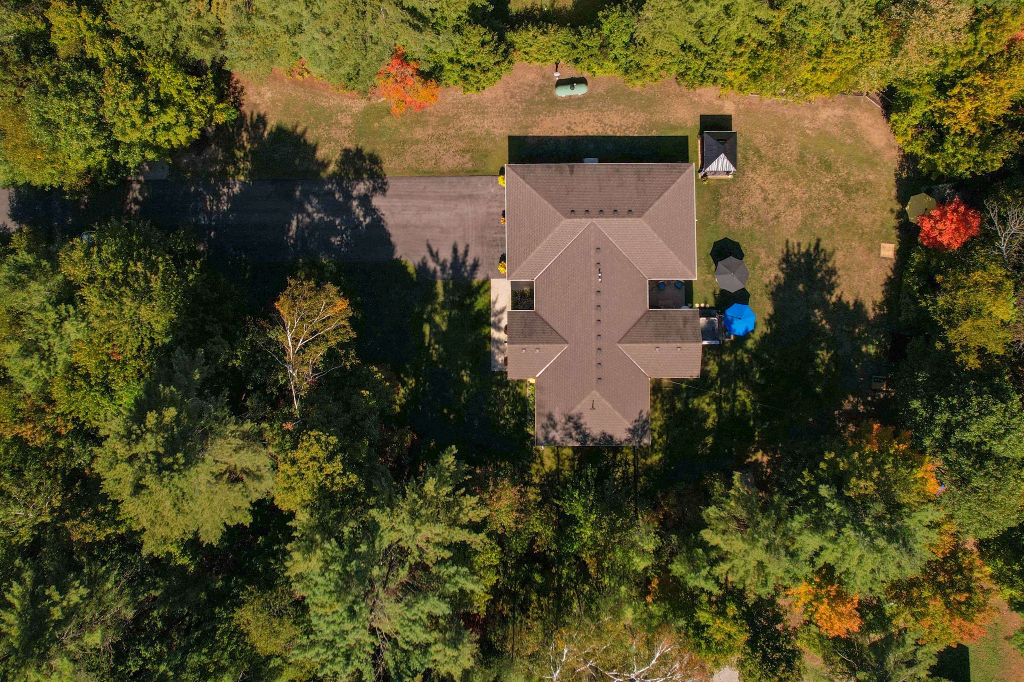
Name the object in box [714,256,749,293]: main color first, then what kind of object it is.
gray umbrella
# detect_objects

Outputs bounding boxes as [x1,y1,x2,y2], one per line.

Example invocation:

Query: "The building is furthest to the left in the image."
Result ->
[503,161,704,452]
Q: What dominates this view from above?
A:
trees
